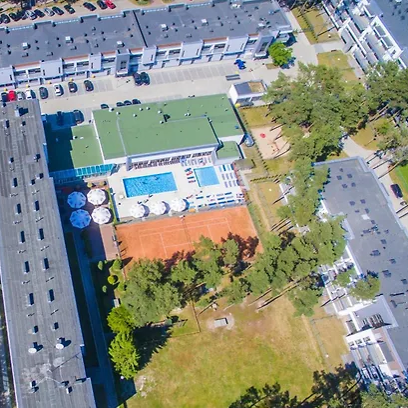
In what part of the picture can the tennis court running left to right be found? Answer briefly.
center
